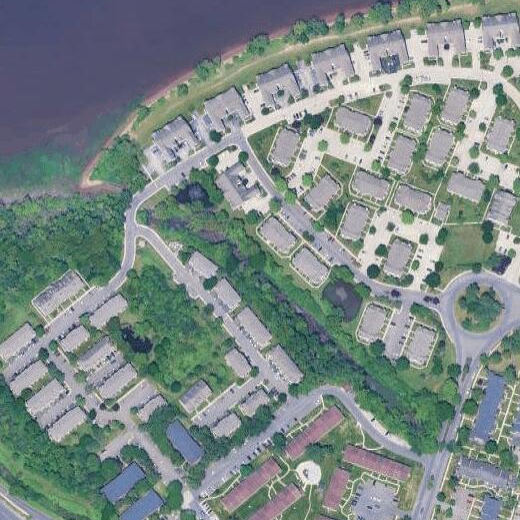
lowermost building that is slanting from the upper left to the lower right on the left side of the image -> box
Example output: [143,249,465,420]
[167,419,202,465]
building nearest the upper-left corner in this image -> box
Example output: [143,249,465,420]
[152,116,198,161]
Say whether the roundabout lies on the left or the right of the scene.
right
